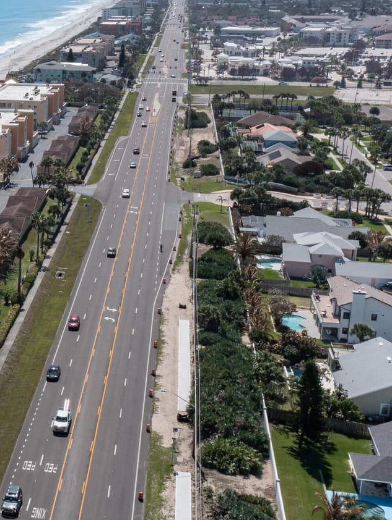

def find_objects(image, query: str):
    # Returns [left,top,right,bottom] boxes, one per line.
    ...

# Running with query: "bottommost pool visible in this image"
[327,490,392,520]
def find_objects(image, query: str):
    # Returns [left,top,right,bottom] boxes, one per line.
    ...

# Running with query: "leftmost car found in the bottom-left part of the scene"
[2,483,23,513]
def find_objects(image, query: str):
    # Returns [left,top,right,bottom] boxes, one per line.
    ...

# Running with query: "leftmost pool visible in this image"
[257,256,281,272]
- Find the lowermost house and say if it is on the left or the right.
right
